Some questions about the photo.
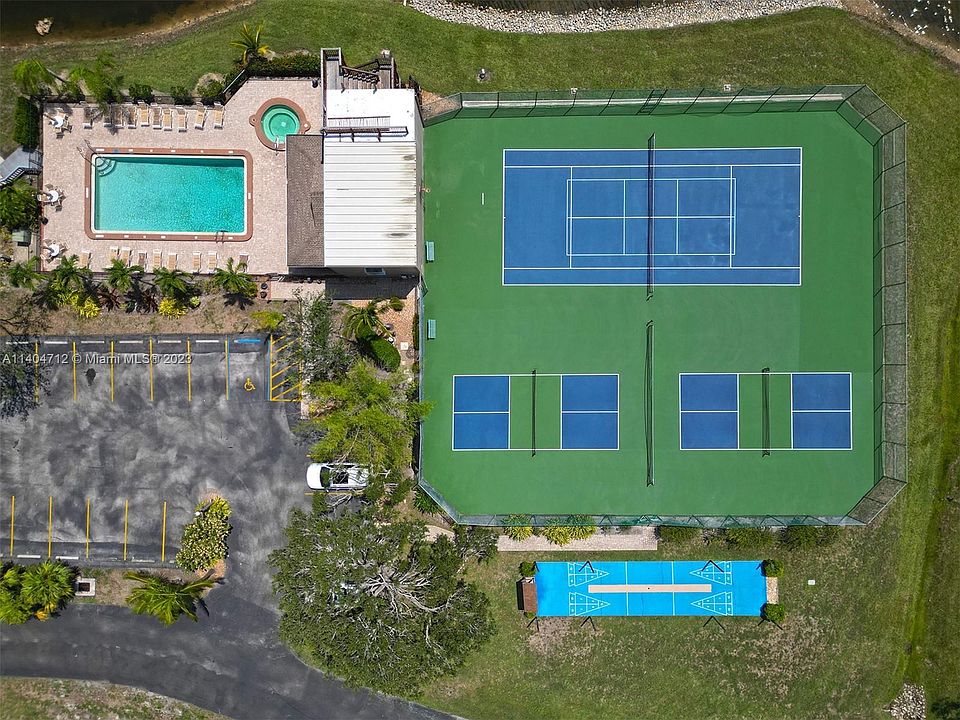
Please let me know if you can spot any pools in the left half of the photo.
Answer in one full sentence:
Yes, a pool can be seen in the left half of the photo.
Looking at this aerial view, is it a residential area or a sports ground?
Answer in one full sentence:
It's a sports ground.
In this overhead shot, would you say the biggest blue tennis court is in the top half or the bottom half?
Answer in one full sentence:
The top half of the photo is where the biggest blue tennis court is.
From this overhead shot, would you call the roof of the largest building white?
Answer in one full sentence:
Yes, the roof of the largest building is indeed white.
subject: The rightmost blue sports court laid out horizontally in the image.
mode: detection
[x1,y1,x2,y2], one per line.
[680,373,852,450]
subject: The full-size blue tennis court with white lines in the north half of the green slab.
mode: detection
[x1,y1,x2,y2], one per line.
[502,147,802,286]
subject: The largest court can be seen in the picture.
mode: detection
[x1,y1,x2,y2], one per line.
[423,99,883,516]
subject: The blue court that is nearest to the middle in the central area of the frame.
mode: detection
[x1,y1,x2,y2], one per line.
[453,374,619,450]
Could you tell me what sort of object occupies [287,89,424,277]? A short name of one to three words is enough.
building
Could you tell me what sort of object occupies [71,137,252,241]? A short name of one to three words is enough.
swimming pool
